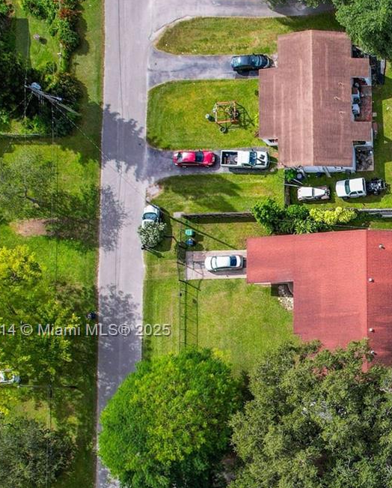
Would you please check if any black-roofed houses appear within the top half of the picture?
No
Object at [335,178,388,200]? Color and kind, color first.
white truck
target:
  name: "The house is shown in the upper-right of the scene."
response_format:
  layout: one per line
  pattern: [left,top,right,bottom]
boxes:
[259,30,373,176]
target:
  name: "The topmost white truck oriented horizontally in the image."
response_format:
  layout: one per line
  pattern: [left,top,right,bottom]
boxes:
[220,147,270,170]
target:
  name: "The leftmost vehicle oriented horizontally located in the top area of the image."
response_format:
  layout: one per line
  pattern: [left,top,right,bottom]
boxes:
[172,149,216,167]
